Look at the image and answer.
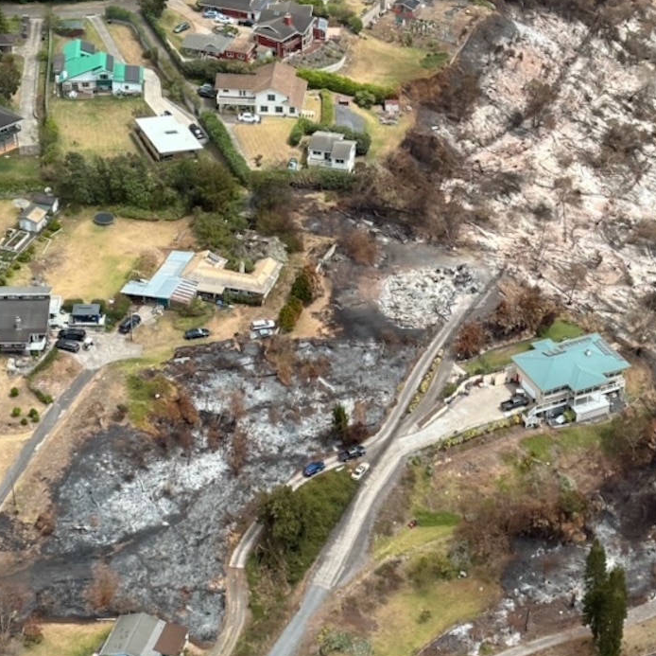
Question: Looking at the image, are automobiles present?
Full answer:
Yes, the picture does show an automobile.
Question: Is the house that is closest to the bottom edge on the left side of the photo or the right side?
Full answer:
It is on the left.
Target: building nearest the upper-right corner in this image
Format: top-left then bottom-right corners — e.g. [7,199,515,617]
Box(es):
[395,0,424,20]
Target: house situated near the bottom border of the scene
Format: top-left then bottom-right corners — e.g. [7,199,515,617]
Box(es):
[100,611,197,656]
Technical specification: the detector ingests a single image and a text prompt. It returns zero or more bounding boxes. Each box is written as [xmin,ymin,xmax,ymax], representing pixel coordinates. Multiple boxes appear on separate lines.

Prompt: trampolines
[92,212,115,226]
